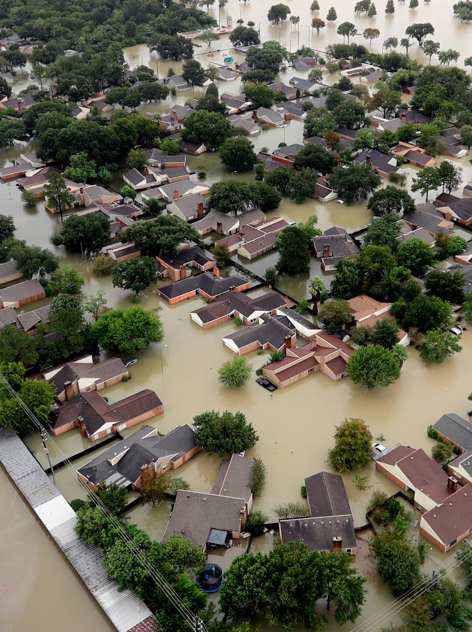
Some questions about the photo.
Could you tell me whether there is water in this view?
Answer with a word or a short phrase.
Yes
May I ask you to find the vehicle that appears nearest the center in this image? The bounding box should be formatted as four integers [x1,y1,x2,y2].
[250,378,277,395]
